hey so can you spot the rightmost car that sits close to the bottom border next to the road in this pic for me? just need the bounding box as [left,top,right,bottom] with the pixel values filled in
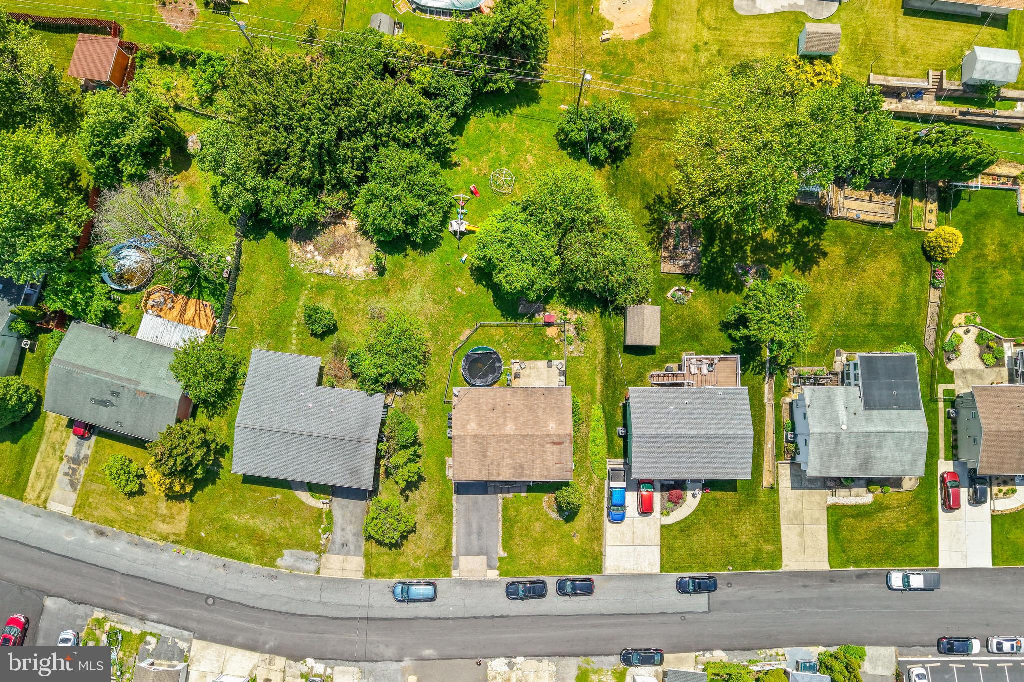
[985,634,1024,657]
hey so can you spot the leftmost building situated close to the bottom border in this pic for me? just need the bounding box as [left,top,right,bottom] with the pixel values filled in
[132,648,199,682]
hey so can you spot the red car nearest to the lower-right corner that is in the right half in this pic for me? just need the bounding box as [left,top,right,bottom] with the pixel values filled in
[938,469,964,511]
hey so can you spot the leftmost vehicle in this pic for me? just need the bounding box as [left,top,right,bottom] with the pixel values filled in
[0,608,31,655]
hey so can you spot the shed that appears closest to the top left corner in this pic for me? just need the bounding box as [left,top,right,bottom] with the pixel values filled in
[69,33,136,90]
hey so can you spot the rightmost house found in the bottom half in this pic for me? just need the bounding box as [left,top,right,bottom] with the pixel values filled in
[956,385,1024,476]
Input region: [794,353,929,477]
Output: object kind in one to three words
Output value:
house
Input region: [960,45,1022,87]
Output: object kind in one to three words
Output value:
shed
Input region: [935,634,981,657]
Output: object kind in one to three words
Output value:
car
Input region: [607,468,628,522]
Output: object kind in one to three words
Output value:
truck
